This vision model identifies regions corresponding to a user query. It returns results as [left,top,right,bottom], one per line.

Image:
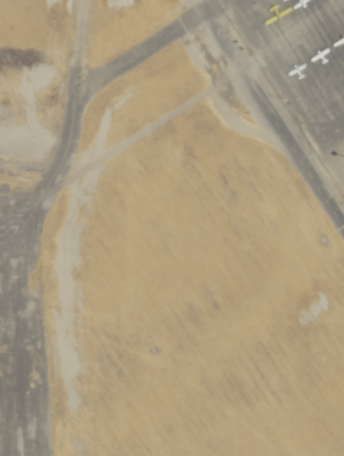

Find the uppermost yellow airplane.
[264,5,292,25]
